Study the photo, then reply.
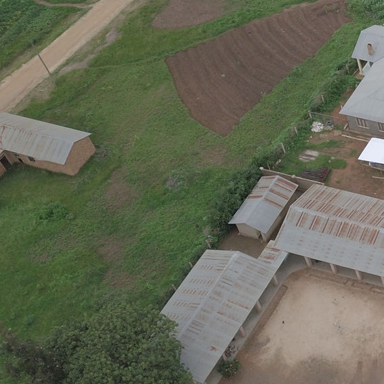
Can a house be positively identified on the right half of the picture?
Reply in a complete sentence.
Yes, there is a house on the right half of the picture.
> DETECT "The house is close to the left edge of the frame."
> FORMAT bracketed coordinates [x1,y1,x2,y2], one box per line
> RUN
[0,113,102,180]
